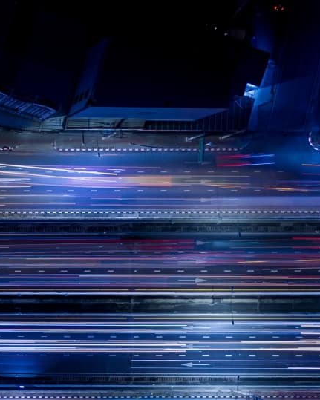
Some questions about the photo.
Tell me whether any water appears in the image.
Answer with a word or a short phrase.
No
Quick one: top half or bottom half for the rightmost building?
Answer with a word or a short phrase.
top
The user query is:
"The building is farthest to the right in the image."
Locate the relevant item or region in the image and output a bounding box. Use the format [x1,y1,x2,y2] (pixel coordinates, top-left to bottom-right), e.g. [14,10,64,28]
[252,0,304,113]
